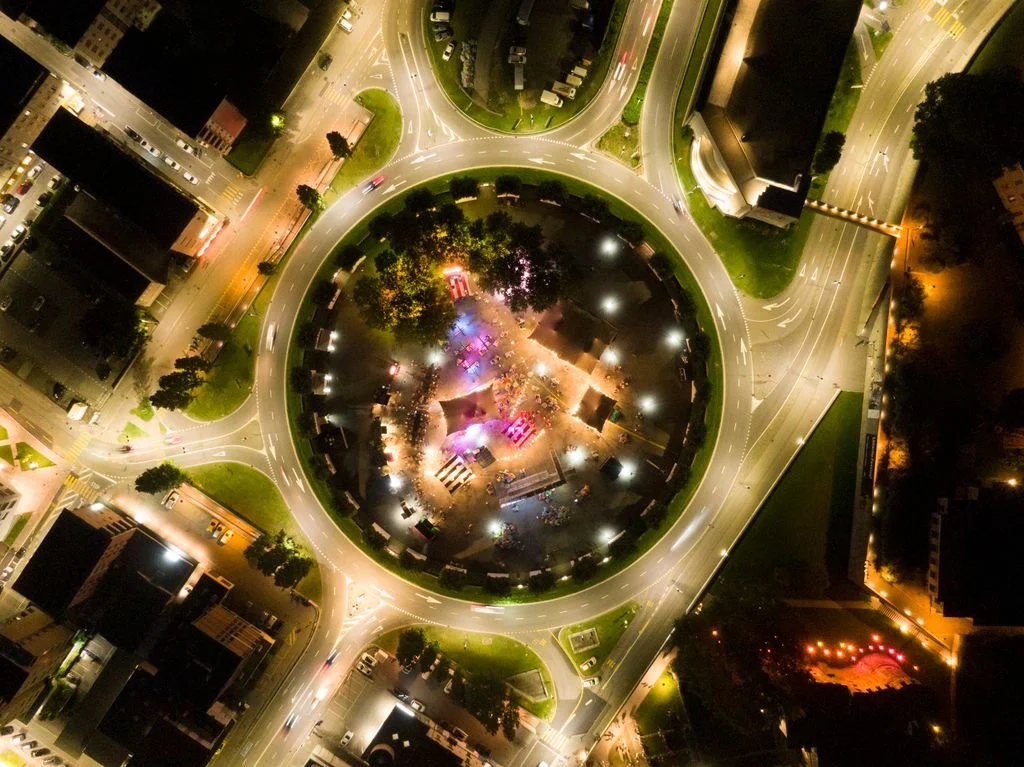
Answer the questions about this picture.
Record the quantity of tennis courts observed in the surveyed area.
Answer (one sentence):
Not a single tennis court can be seen.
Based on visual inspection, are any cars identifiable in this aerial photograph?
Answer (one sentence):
Yes, I can see a car in this picture.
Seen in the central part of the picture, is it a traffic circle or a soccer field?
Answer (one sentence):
There is a traffic circle in the central part of the picture.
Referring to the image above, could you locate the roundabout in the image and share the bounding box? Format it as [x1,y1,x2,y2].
[257,137,753,633]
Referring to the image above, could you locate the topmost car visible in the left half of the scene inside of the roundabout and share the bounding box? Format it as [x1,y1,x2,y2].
[365,177,382,192]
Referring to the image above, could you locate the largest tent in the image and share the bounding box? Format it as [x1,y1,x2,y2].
[523,302,618,378]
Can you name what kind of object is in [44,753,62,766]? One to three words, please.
vehicle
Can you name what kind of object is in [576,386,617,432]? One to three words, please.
tent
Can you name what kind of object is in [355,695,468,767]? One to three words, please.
building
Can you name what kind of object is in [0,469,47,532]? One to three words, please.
house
